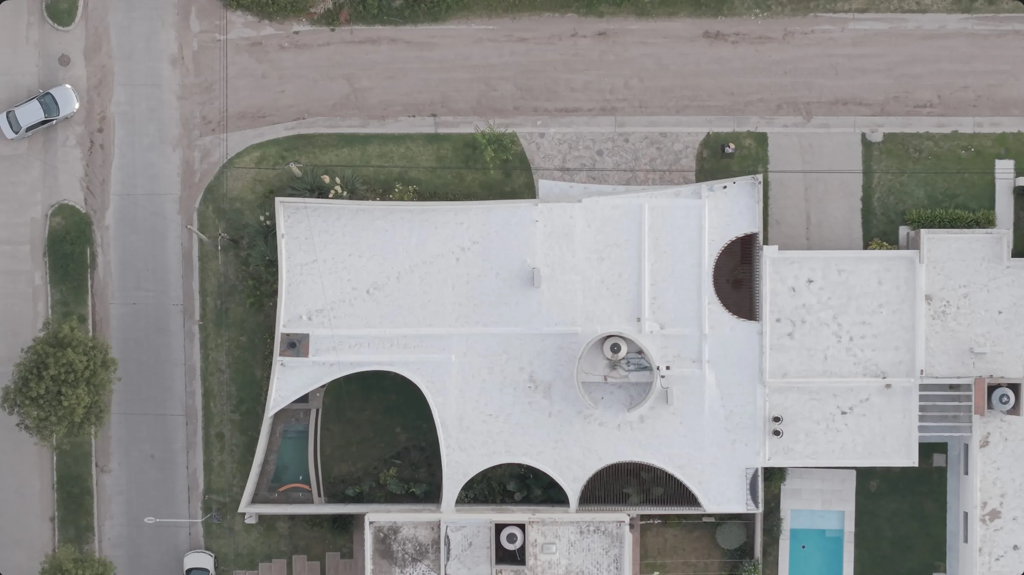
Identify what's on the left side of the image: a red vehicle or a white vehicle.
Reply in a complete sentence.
There is a white vehicle on the left side of the image.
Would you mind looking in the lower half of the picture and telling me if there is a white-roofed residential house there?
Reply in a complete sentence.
Yes, looking in the lower half of the picture, one can make out a white-roofed residential house.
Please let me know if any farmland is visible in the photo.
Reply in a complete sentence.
No, the scene doesn't show any farmland.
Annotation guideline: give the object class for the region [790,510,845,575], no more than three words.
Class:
swimming pool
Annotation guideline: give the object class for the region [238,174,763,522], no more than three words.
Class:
house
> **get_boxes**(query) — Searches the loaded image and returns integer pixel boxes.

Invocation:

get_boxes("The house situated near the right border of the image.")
[762,226,1024,575]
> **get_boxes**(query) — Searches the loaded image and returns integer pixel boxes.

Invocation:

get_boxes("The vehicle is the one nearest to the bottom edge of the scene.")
[181,549,218,575]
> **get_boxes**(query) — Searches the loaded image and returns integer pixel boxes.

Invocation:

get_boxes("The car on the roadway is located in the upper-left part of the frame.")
[0,83,77,138]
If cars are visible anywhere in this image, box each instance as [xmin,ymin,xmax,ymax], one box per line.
[0,83,77,138]
[181,549,218,575]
